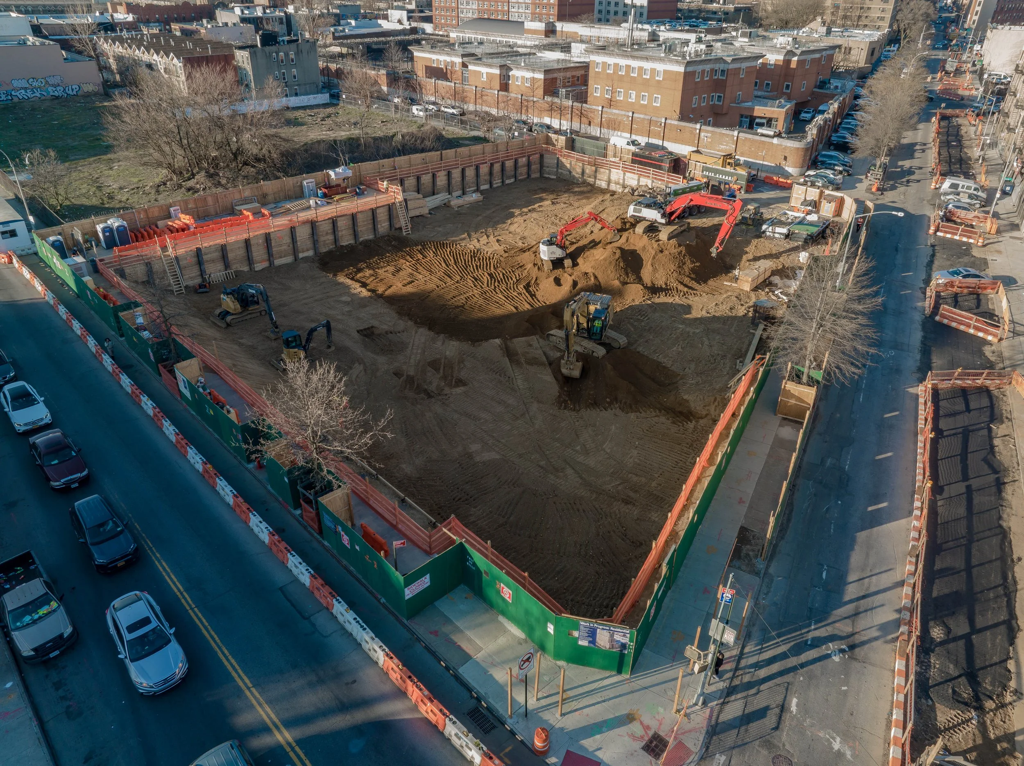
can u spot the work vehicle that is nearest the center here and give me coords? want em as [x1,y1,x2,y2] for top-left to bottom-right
[545,293,629,363]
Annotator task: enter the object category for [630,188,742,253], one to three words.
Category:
work vehicle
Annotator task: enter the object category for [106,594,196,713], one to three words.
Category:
car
